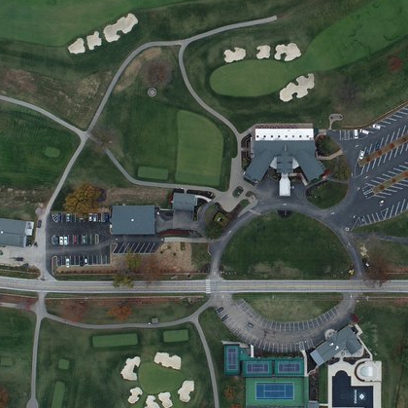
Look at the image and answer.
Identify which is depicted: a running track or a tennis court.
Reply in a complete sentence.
Of the two, only a tennis court appears.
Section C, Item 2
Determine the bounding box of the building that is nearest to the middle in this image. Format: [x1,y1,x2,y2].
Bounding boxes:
[173,193,197,228]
